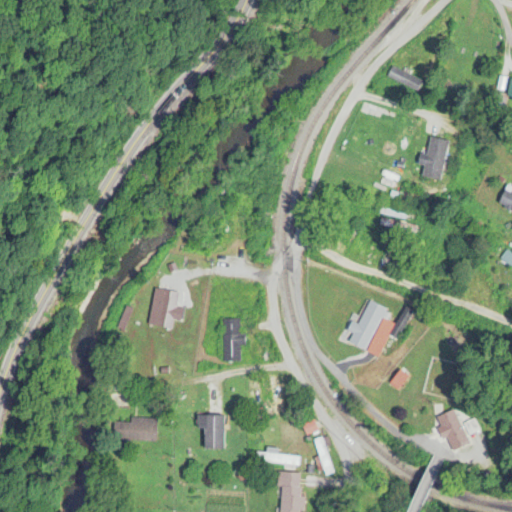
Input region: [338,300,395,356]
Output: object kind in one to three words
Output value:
building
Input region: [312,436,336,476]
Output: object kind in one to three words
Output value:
house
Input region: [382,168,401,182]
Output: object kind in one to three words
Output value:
vehicle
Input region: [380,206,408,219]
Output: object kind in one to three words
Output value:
vehicle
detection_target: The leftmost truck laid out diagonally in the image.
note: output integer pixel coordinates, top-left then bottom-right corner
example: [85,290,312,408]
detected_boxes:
[158,88,186,116]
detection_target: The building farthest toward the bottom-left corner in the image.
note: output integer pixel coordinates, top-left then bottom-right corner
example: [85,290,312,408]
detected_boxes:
[114,418,158,442]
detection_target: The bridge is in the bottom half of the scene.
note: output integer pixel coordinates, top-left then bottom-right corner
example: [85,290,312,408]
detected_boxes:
[407,454,445,512]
